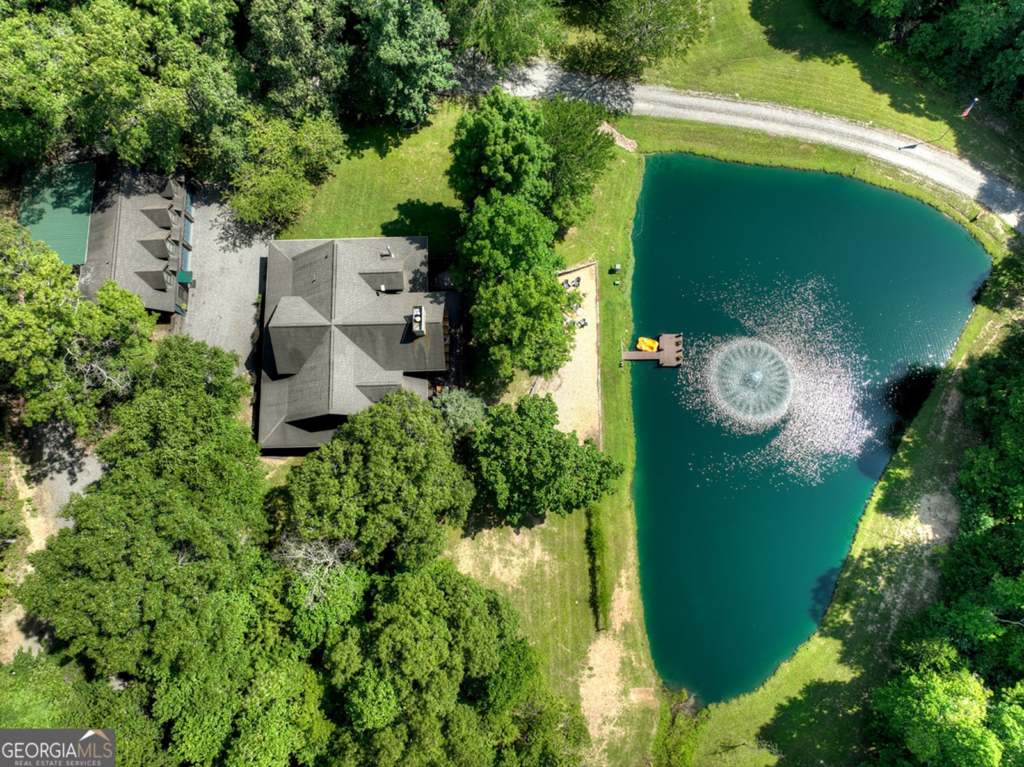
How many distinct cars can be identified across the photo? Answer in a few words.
0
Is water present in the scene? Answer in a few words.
Yes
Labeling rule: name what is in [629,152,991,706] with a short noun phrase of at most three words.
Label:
pond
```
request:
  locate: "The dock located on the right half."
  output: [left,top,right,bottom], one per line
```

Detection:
[622,332,686,367]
